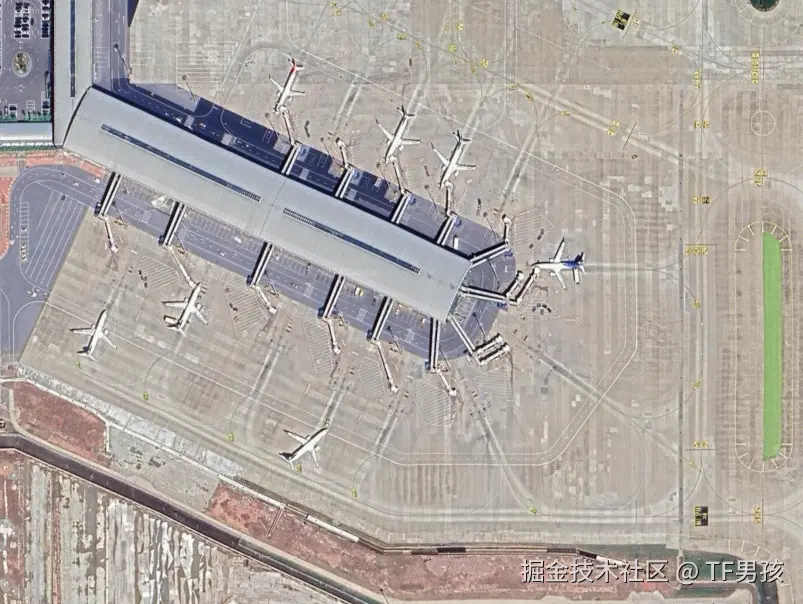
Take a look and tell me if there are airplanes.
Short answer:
Yes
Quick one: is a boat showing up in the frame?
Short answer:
No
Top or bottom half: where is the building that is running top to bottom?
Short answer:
top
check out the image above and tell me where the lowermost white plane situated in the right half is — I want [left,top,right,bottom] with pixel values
[532,238,586,290]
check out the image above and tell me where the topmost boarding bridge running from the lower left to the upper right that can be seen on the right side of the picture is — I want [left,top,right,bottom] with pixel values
[470,217,512,269]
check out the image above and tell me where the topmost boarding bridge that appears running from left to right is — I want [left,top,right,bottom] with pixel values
[459,267,540,309]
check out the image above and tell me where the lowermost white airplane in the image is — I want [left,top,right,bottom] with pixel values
[281,429,328,471]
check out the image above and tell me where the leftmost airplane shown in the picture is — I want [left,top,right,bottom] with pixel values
[70,310,117,360]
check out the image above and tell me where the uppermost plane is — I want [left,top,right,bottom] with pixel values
[265,60,311,111]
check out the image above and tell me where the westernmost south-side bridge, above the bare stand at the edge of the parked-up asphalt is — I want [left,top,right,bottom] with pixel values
[95,173,124,253]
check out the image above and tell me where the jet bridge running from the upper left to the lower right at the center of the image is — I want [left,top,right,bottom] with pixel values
[449,315,511,366]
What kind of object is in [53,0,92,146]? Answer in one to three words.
building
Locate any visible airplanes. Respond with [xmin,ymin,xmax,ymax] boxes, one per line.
[70,310,117,360]
[265,60,311,111]
[374,107,423,162]
[281,429,328,471]
[162,284,209,334]
[428,133,480,188]
[532,238,586,290]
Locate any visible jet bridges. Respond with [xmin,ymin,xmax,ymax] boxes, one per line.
[390,155,415,225]
[336,139,360,200]
[246,241,277,313]
[318,273,347,353]
[279,104,306,176]
[159,202,197,289]
[459,267,540,309]
[437,181,461,246]
[424,317,456,395]
[95,173,124,253]
[470,217,512,269]
[449,315,511,366]
[366,297,398,392]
